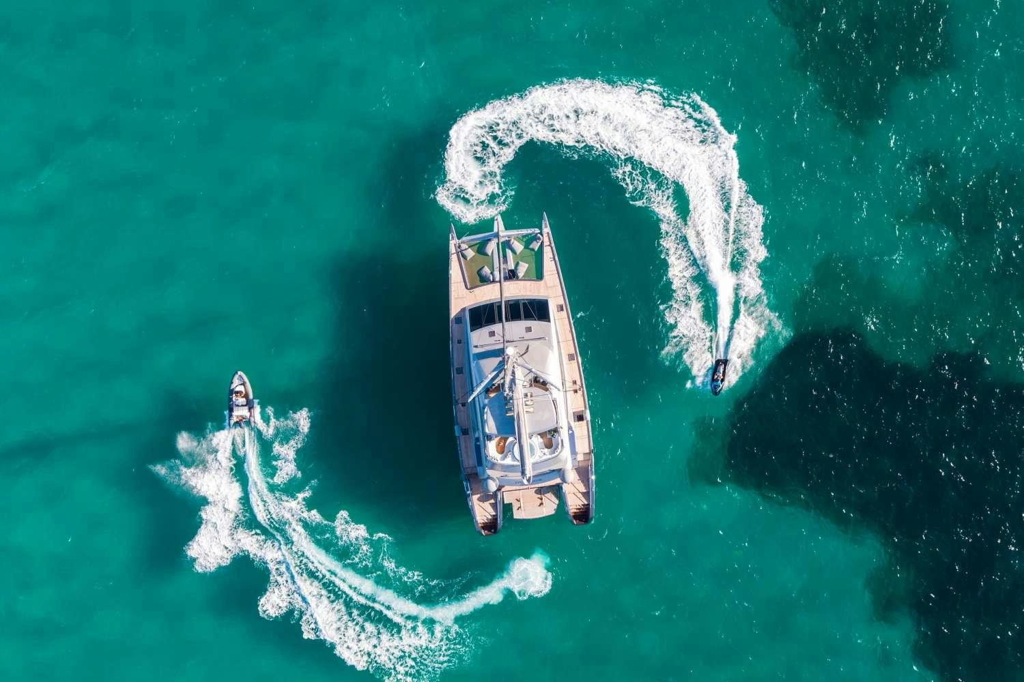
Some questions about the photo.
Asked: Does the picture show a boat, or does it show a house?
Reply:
boat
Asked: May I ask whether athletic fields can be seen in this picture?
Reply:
No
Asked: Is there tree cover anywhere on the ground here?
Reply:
No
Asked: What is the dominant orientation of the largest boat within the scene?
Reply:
from top to bottom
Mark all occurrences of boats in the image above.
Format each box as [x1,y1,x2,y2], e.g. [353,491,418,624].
[451,212,593,534]
[712,356,731,396]
[225,368,253,431]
